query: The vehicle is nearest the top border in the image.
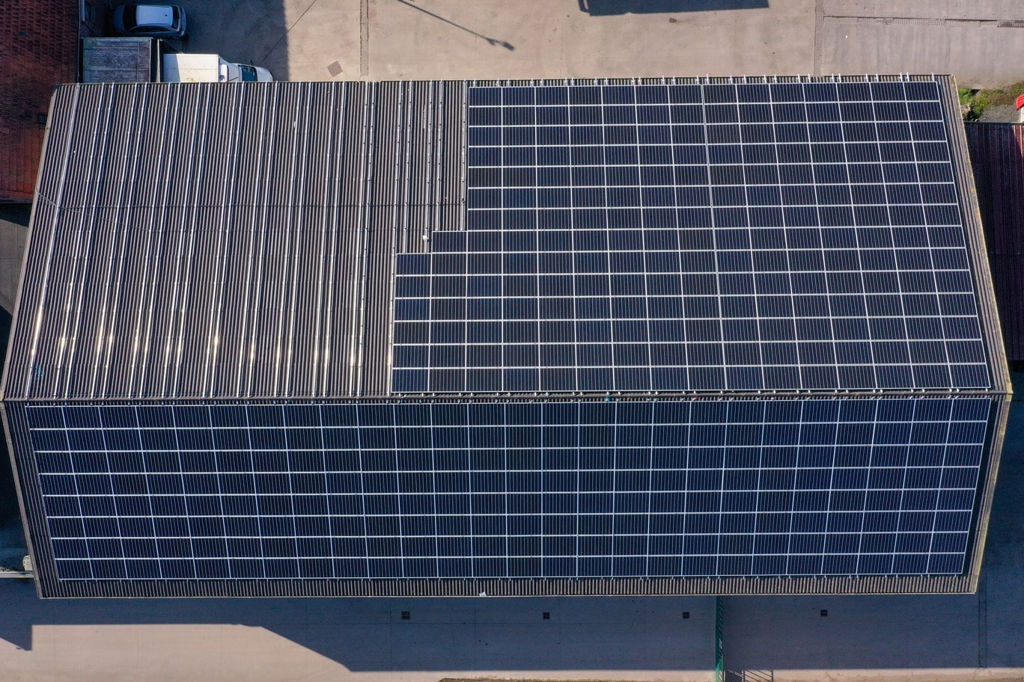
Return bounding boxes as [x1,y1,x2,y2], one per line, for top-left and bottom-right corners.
[114,0,190,40]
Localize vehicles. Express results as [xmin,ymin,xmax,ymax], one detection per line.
[163,53,278,82]
[114,0,190,40]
